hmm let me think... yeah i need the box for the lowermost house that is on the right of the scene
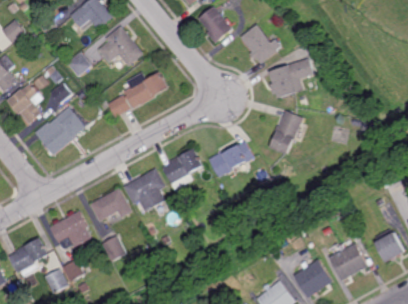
[258,280,296,304]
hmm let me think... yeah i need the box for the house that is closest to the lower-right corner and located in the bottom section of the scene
[374,232,405,262]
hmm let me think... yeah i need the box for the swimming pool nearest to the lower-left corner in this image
[164,210,182,227]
